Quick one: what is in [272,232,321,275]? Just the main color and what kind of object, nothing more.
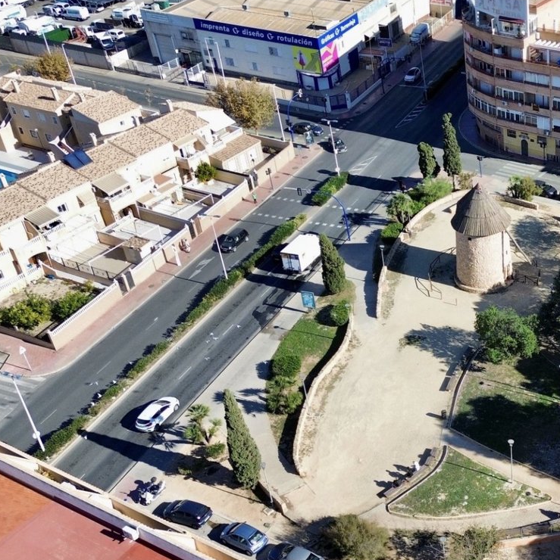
white truck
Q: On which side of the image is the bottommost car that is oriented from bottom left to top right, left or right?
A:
left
